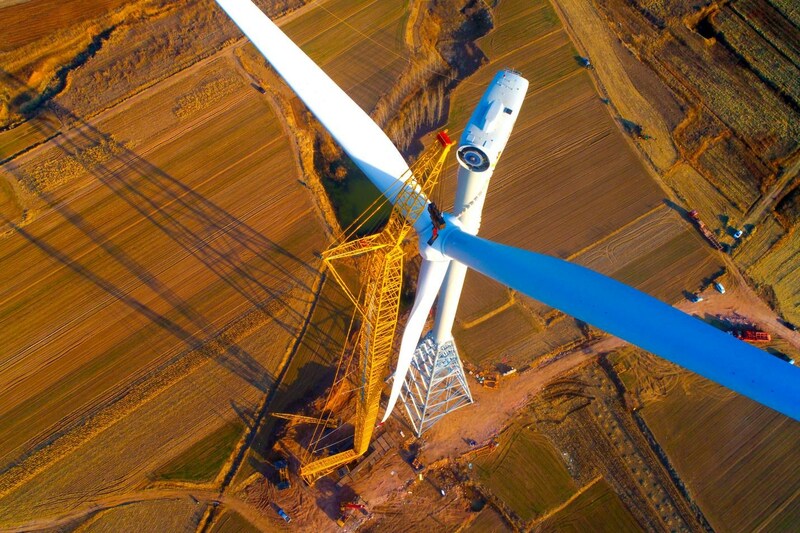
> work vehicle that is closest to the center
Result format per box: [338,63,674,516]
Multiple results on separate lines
[481,373,499,389]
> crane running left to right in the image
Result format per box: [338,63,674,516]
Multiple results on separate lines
[271,413,360,433]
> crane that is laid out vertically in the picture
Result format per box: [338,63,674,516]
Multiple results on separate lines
[300,108,458,481]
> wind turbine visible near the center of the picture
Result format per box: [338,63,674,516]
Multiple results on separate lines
[380,50,529,442]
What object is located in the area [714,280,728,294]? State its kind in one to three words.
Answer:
vehicle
